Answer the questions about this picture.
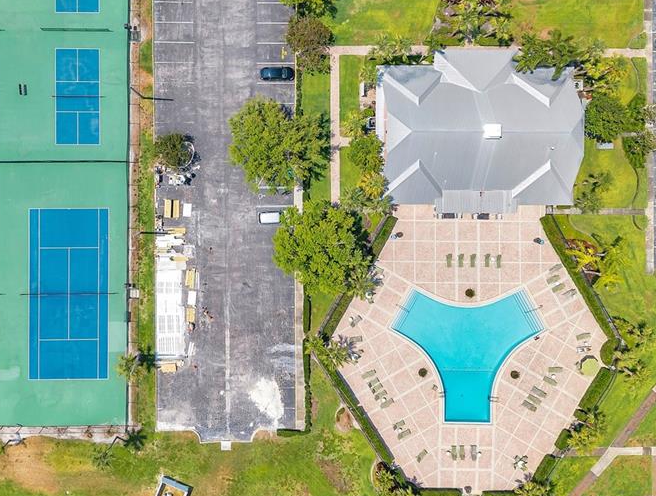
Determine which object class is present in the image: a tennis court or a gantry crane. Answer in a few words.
tennis court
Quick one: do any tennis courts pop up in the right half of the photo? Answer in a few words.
No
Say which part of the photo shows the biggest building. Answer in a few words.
top right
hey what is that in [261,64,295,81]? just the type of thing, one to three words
car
